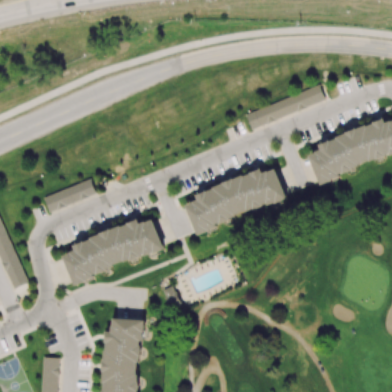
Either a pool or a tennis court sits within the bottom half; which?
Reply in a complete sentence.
Looking within the bottom half, you will find a pool.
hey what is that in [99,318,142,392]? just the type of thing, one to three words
building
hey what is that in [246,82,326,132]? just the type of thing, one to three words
building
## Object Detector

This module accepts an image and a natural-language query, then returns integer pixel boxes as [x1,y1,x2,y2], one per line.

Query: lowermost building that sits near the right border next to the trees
[311,118,392,184]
